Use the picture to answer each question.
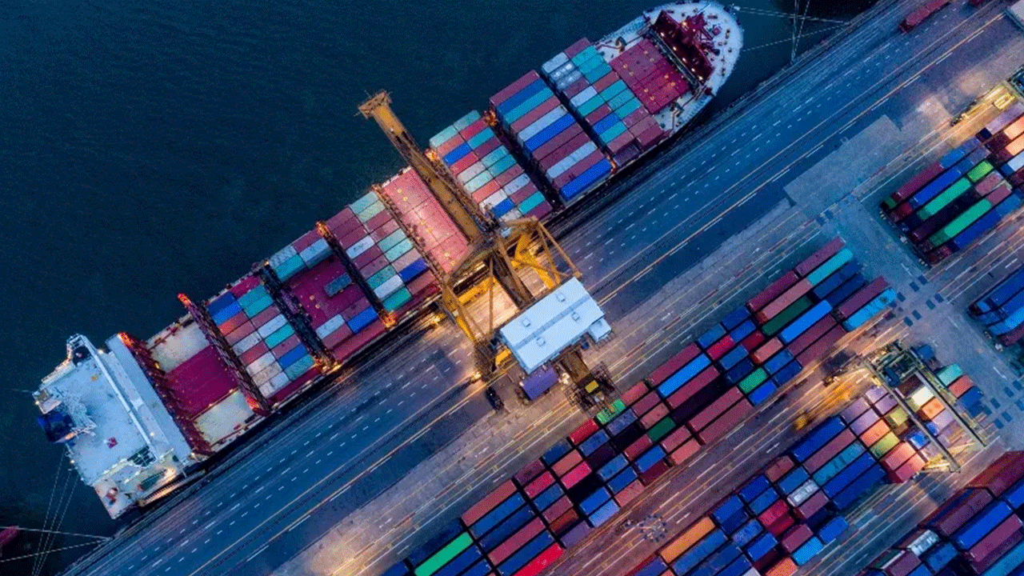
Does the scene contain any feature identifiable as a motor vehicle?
Yes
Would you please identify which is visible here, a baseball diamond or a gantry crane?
gantry crane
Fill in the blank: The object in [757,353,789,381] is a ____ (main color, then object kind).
blue shipping container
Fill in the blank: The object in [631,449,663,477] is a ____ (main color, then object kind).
blue shipping container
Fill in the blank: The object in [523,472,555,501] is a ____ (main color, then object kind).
pink shipping container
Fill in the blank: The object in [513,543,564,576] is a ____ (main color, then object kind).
pink shipping container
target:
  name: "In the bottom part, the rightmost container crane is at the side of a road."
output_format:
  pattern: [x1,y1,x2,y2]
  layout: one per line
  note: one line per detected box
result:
[834,338,988,482]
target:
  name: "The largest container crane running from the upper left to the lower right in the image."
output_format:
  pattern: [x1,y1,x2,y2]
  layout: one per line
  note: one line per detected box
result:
[360,84,629,420]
